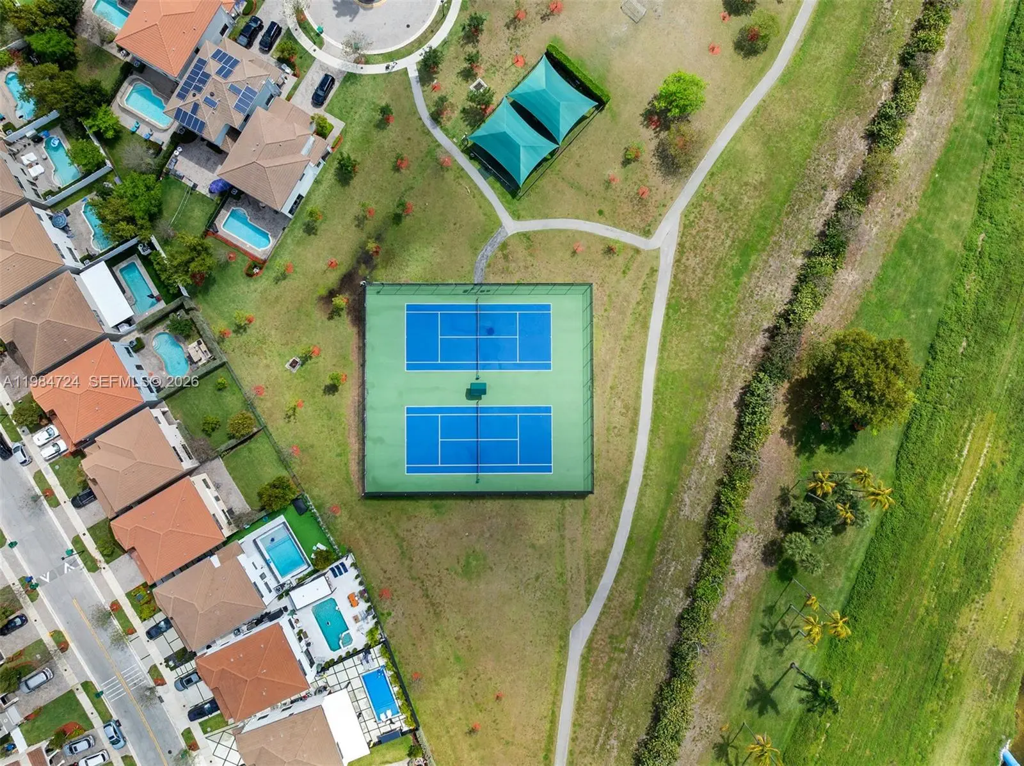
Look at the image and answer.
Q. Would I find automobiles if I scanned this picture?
Yes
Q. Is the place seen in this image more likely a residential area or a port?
residential area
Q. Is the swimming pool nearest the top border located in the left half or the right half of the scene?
left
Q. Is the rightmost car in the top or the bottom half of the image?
top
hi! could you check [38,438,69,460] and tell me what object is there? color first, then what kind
white car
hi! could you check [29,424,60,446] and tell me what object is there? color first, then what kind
white car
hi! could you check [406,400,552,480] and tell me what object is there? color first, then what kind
blue tennis court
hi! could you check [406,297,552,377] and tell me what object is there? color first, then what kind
blue tennis court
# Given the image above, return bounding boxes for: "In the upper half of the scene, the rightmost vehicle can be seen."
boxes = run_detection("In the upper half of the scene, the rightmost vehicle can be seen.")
[313,74,336,108]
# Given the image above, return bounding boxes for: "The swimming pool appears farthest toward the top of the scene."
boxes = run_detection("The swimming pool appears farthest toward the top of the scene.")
[91,0,130,30]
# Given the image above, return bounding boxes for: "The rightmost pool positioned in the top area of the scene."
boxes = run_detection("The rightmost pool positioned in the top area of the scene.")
[221,206,274,251]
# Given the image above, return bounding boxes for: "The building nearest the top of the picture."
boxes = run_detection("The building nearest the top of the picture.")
[114,0,246,83]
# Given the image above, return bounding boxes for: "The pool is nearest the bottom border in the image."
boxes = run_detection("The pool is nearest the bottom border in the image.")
[360,668,401,724]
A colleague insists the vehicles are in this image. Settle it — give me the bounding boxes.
[0,433,16,464]
[38,438,69,460]
[22,668,55,692]
[189,699,220,720]
[0,613,31,634]
[65,733,96,756]
[103,720,127,749]
[313,74,336,108]
[260,21,283,55]
[80,746,113,766]
[173,670,204,692]
[11,439,35,469]
[29,424,60,446]
[145,616,173,638]
[238,14,264,51]
[68,487,98,508]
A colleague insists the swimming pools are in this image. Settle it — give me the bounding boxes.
[42,134,81,188]
[221,206,274,251]
[116,259,161,316]
[151,330,190,379]
[80,200,109,251]
[340,633,354,649]
[255,522,309,582]
[120,77,178,132]
[91,0,130,30]
[310,596,351,653]
[360,668,401,724]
